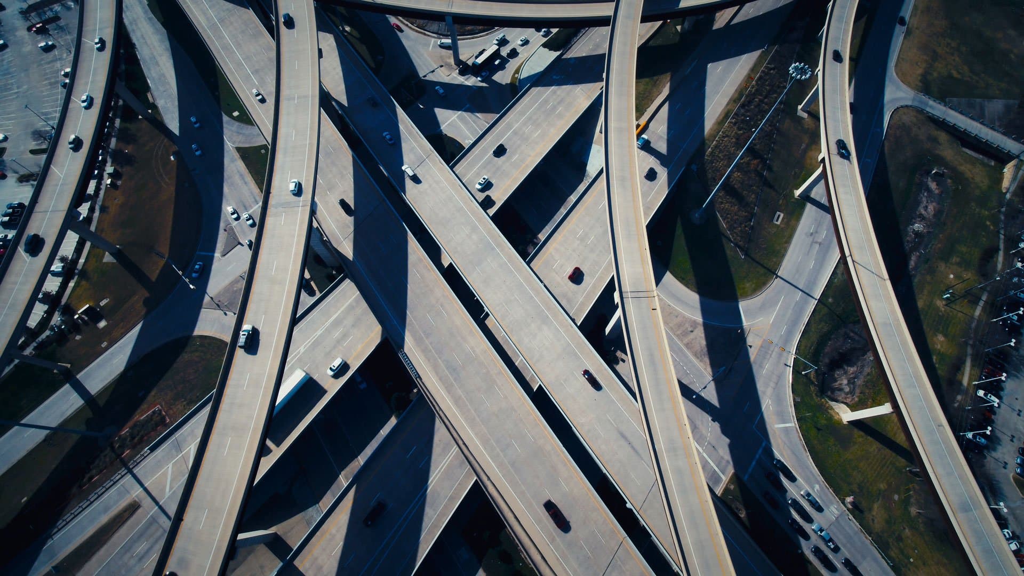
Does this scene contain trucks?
Yes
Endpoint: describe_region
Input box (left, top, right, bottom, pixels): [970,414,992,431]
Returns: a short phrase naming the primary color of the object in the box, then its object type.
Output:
black car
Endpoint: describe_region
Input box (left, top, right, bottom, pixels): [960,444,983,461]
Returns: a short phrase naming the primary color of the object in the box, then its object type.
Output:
black car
